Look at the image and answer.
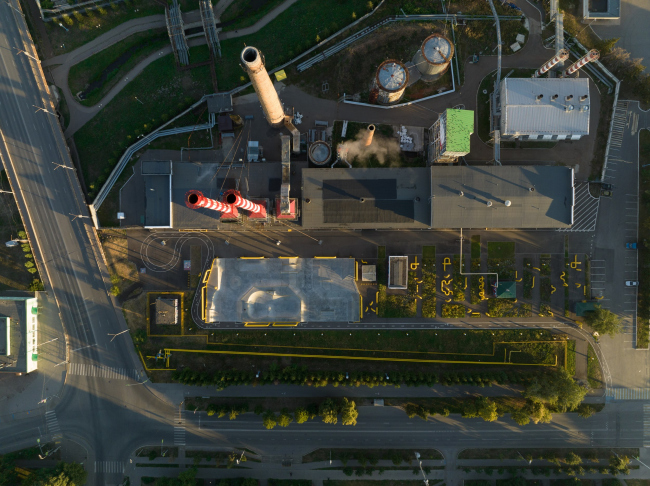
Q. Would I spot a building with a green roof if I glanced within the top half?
Yes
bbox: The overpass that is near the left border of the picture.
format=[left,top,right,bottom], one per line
[0,0,133,353]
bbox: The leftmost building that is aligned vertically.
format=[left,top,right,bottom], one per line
[0,296,41,379]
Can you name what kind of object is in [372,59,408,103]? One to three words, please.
storage tank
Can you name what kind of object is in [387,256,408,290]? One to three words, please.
building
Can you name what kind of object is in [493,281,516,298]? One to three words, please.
shed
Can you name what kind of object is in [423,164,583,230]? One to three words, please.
building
